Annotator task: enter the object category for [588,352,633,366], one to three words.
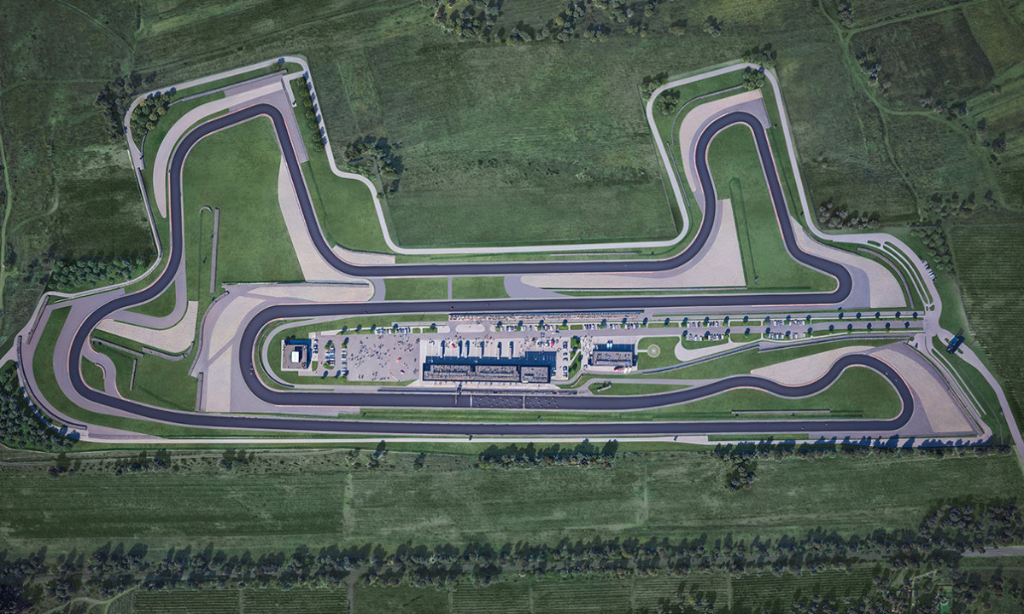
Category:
building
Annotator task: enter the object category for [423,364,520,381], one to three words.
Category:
building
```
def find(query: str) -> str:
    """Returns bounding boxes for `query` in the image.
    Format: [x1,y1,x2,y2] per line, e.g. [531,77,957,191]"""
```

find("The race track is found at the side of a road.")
[68,103,914,435]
